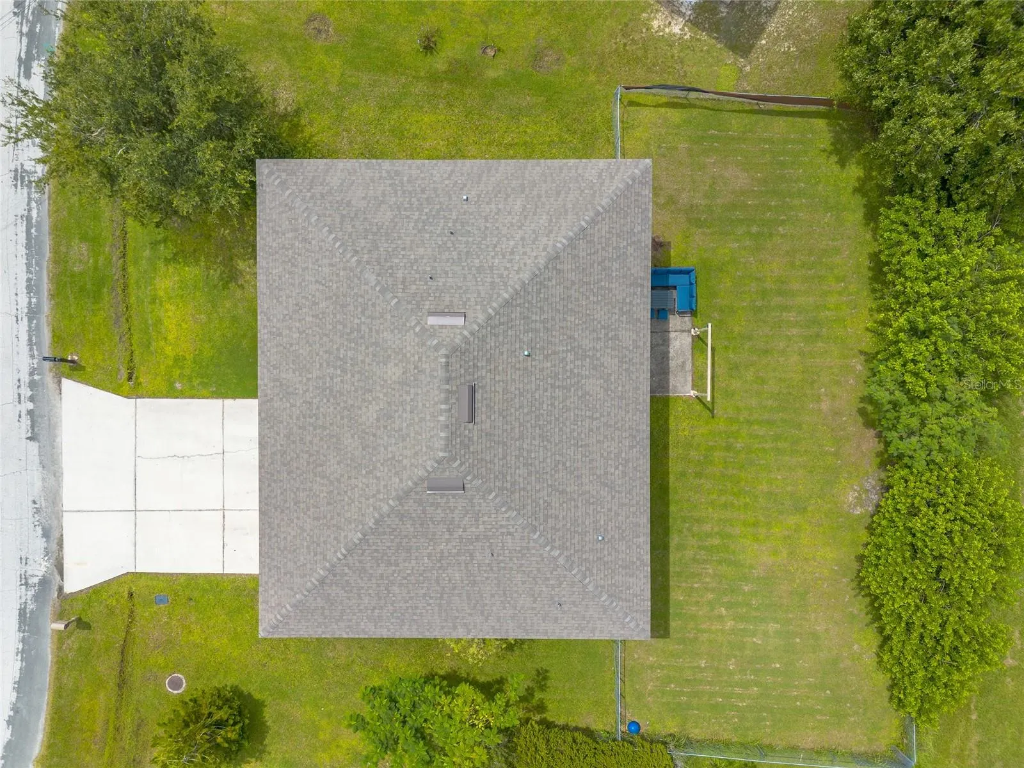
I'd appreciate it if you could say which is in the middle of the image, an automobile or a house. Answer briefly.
house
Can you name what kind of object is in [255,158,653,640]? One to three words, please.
house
